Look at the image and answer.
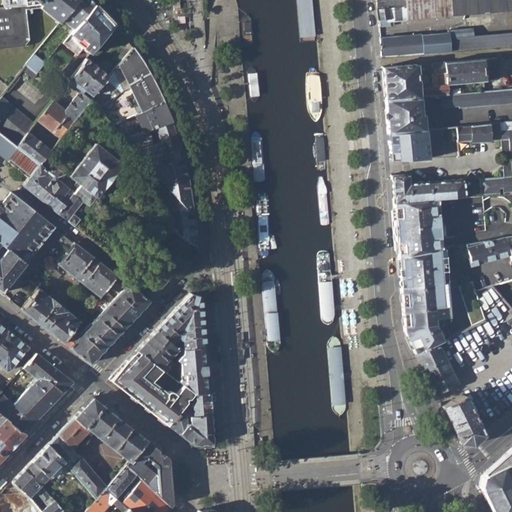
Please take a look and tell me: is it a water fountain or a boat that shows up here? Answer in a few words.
boat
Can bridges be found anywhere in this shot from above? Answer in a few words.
Yes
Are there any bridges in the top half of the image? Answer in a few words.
No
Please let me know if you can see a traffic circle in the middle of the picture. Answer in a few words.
No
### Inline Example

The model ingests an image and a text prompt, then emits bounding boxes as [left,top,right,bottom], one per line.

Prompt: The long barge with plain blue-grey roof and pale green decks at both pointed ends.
[324,335,346,420]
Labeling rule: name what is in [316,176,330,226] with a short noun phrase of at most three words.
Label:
boat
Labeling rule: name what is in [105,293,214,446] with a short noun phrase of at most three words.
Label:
building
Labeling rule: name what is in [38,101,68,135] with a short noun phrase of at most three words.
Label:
house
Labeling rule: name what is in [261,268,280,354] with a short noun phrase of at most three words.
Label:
ship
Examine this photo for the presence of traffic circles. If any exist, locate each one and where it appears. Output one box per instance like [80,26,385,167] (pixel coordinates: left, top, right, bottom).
[400,447,440,488]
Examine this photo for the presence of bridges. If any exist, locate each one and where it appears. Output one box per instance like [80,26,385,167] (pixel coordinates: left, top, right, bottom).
[268,453,362,493]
